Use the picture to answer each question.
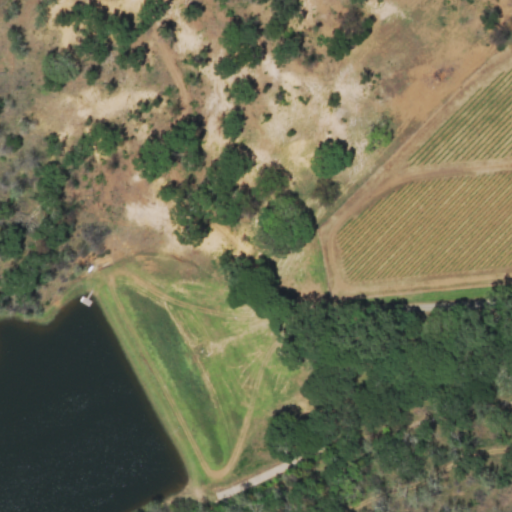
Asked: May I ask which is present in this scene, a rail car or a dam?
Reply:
dam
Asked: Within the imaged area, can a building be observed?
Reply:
No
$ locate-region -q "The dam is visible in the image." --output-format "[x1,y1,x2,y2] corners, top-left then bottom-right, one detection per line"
[98,280,214,474]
